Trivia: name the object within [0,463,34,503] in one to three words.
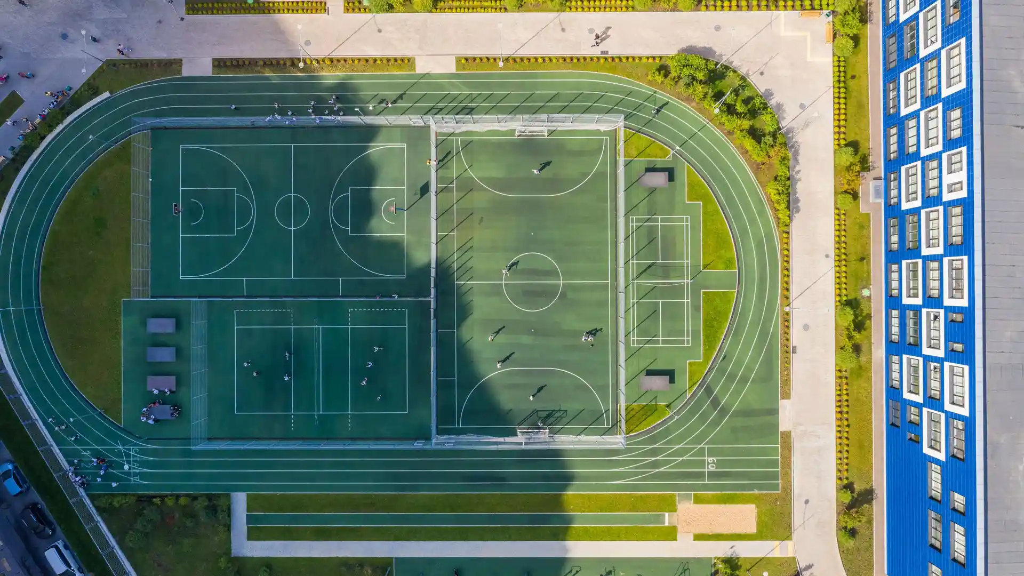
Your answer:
car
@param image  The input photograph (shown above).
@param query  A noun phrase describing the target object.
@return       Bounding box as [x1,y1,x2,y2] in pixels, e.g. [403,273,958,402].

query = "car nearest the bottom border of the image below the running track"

[51,541,93,576]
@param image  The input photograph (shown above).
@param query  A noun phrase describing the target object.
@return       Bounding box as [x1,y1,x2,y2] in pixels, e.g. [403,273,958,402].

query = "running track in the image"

[0,72,782,493]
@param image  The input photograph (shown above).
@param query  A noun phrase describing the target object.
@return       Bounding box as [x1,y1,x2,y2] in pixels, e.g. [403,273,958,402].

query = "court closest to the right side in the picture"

[617,132,737,435]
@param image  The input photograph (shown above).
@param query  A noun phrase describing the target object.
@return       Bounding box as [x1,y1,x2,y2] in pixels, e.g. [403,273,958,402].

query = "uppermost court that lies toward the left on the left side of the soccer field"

[151,126,436,297]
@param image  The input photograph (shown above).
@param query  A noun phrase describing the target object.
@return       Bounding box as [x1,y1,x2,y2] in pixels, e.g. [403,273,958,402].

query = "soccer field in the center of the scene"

[437,128,617,439]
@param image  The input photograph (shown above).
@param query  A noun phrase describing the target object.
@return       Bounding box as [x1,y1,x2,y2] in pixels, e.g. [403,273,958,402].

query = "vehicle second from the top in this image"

[19,501,59,544]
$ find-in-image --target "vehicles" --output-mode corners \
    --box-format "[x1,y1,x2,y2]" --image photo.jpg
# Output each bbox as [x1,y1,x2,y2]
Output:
[0,463,34,503]
[51,541,93,576]
[19,501,59,544]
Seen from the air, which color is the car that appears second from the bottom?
black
